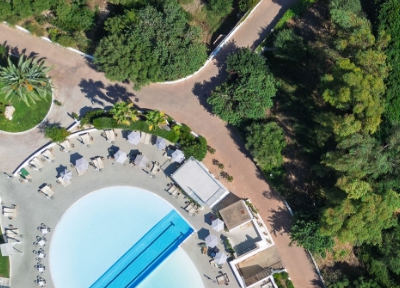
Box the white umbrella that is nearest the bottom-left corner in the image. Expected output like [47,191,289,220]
[1,241,23,263]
